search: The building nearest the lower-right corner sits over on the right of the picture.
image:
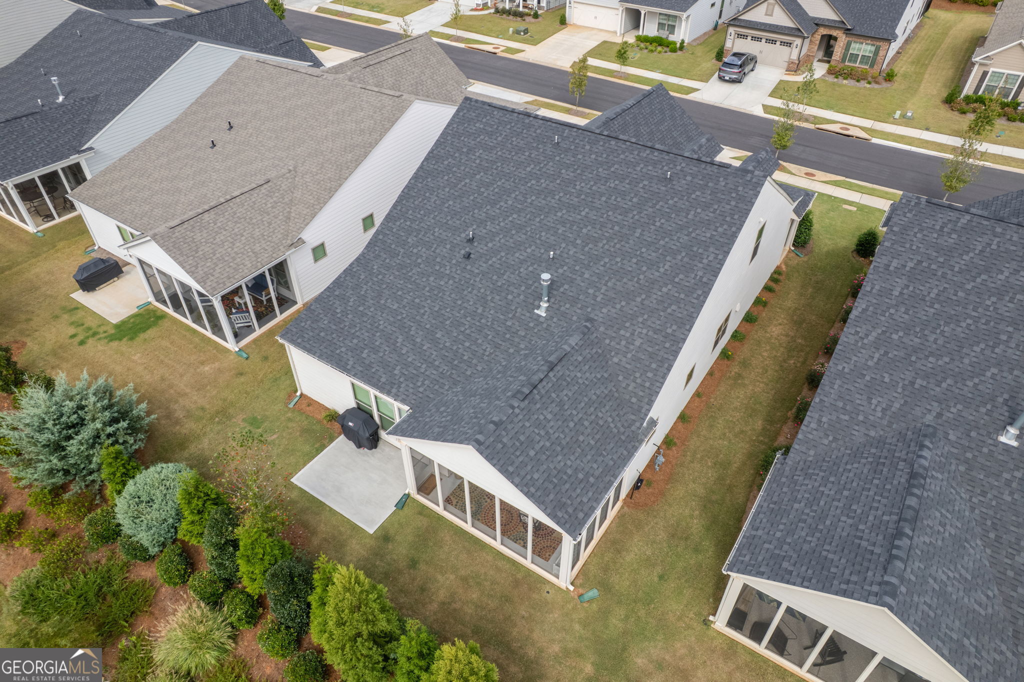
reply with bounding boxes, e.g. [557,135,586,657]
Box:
[701,183,1024,682]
